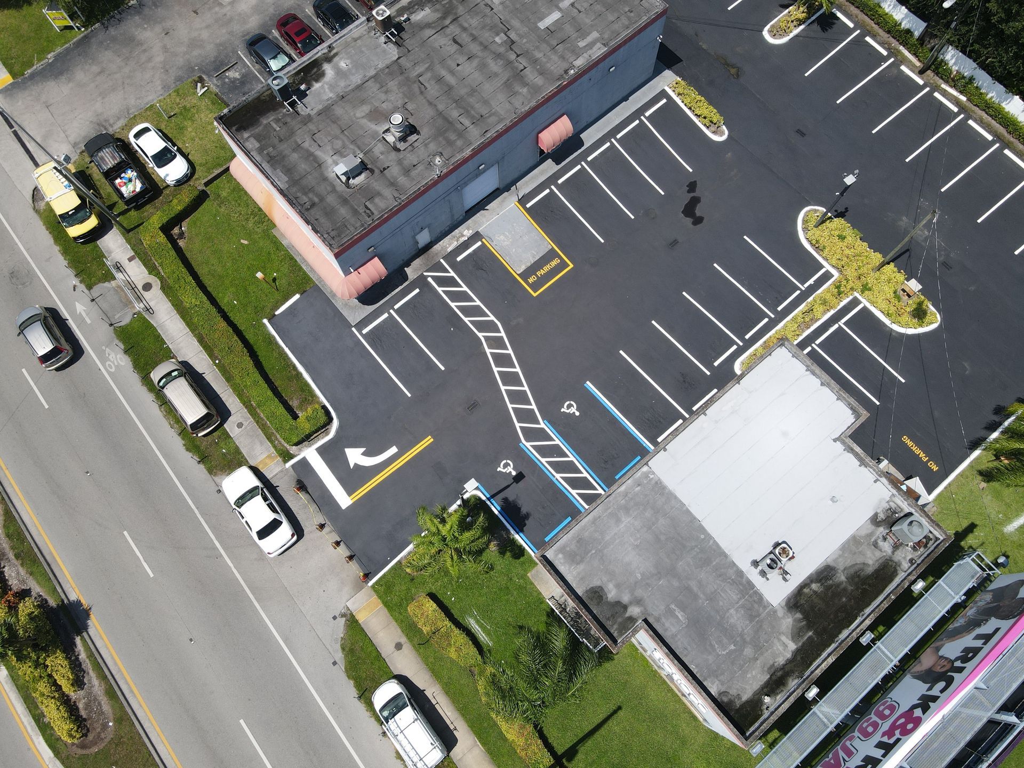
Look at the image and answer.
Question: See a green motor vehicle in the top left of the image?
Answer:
No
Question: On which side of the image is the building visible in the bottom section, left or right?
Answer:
right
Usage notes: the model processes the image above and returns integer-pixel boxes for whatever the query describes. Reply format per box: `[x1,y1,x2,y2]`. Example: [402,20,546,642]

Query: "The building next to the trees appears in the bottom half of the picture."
[532,336,954,750]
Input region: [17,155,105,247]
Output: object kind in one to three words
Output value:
vehicle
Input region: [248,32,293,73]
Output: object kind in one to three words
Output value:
car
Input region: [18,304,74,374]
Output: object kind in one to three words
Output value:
car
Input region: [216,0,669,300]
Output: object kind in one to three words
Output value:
building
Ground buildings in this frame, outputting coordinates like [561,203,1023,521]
[532,336,954,750]
[216,0,669,300]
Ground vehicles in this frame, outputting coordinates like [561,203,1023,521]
[87,134,159,219]
[369,0,382,7]
[280,11,325,51]
[17,155,105,247]
[153,358,224,442]
[374,675,454,768]
[131,120,190,190]
[221,463,300,558]
[248,32,293,73]
[18,304,74,374]
[315,0,353,31]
